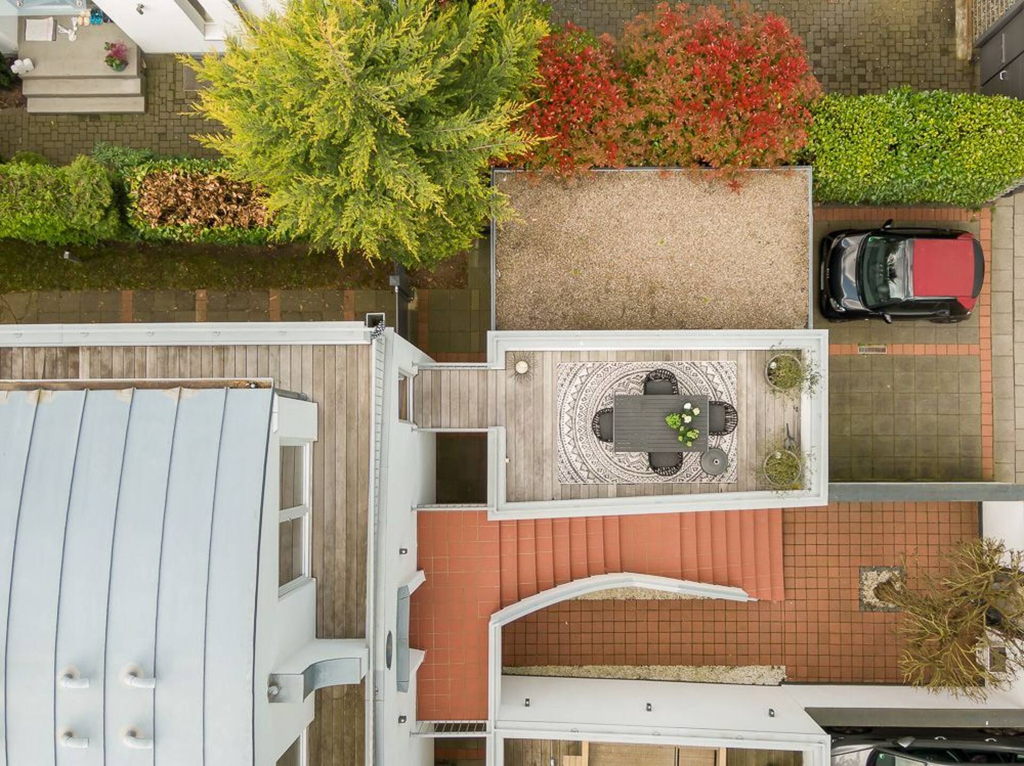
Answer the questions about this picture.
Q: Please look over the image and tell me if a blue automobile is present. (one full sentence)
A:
No, no blue automobile can be seen from above.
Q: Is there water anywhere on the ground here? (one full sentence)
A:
No, the scene doesn't show any water.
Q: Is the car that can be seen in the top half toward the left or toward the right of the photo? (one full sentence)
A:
The car that can be seen in the top half is on the right side of the image.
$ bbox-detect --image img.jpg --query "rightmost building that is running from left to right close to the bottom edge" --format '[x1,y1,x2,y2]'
[488,678,831,766]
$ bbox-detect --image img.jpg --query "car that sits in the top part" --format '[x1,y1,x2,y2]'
[819,215,984,329]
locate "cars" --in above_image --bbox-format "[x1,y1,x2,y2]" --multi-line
[819,215,984,329]
[824,729,1024,766]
